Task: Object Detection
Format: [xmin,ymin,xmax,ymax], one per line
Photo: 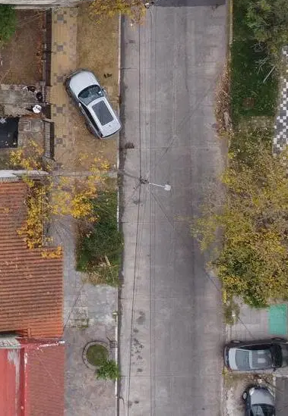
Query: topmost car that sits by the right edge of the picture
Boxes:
[222,336,288,373]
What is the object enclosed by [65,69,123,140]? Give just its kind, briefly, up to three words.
car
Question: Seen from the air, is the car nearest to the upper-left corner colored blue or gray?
gray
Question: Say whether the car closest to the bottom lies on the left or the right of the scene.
right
